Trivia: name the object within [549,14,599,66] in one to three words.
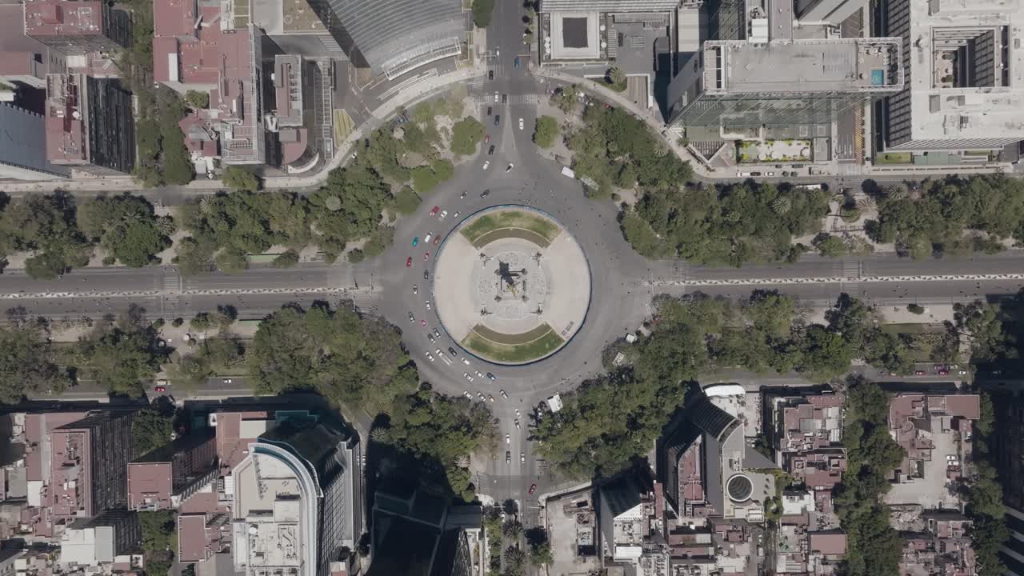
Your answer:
building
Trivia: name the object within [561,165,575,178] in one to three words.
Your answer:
vehicle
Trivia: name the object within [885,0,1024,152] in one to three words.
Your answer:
building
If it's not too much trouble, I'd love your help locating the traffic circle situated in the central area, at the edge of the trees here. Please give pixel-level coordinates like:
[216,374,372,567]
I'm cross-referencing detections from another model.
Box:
[391,164,633,405]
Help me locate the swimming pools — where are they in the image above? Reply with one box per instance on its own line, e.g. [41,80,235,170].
[870,68,884,85]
